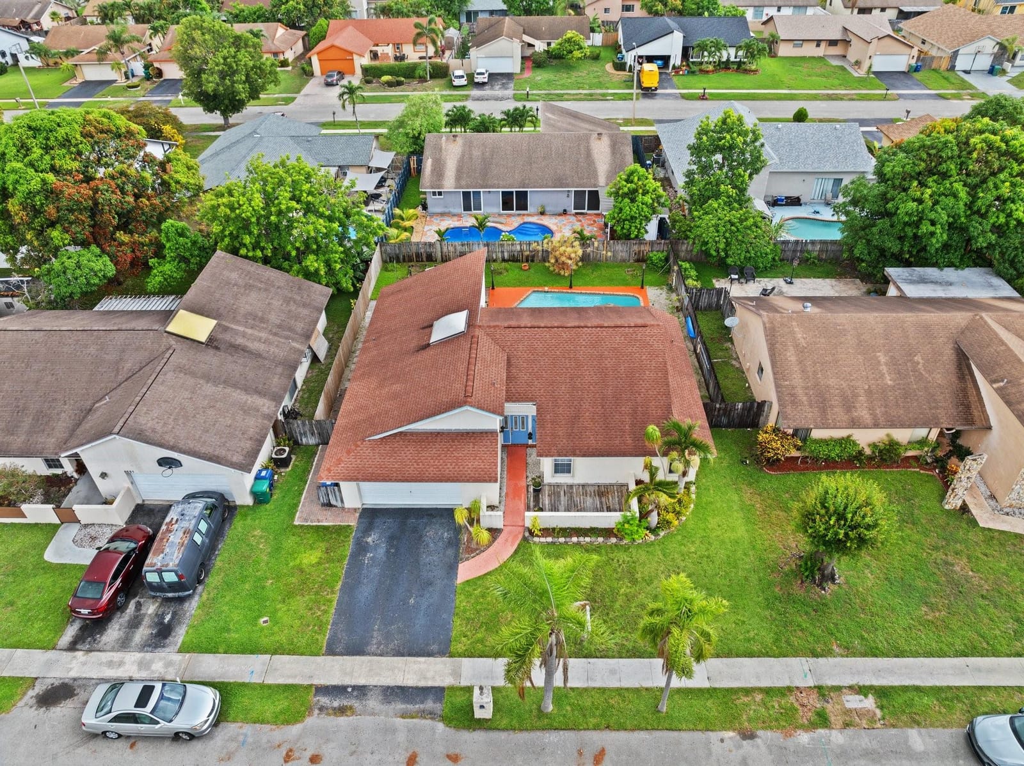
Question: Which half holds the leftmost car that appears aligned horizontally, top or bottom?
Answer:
bottom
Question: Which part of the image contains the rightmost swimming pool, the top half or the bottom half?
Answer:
top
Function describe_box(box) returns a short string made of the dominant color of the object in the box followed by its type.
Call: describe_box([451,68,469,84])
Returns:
white car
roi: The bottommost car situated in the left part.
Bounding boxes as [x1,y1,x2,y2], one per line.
[80,674,225,741]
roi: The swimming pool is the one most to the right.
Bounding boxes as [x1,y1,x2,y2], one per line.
[781,215,871,238]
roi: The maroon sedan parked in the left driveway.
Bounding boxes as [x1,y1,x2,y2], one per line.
[66,526,149,623]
